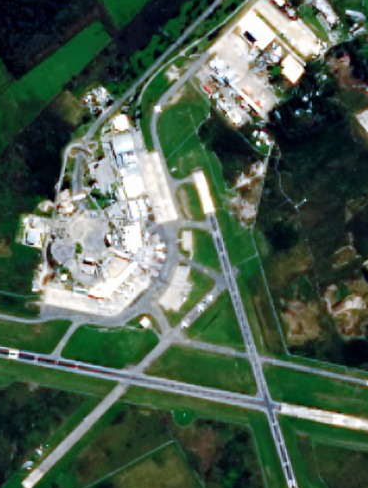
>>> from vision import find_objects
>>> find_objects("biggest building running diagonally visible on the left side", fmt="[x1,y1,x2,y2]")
[86,260,139,299]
